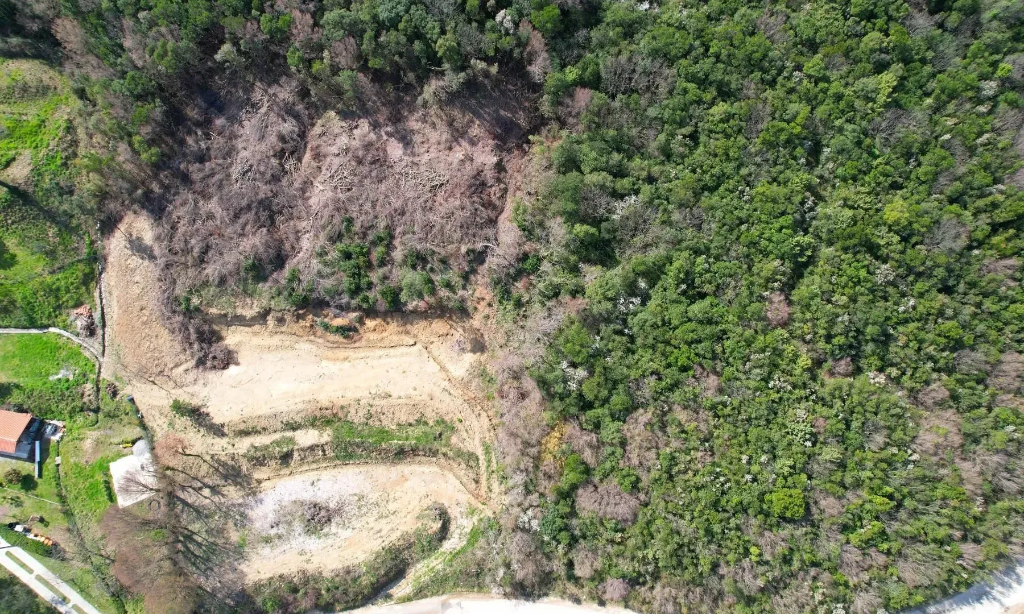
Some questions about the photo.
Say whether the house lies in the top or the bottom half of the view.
bottom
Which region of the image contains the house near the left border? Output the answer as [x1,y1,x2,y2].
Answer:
[0,407,42,454]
